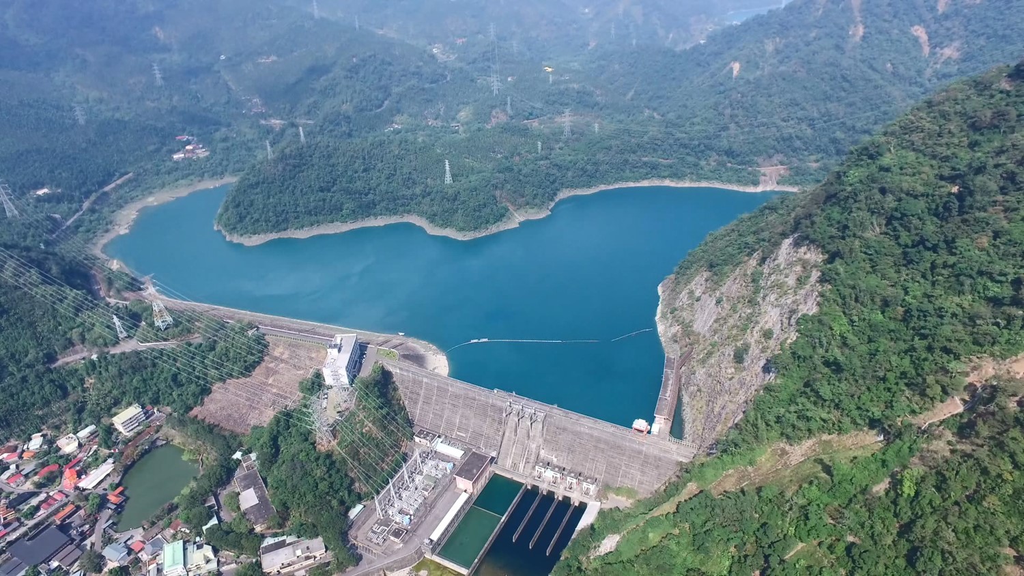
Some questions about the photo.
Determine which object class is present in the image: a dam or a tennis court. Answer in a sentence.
It is a dam that can be seen here.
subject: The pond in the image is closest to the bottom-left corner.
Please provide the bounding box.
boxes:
[116,444,200,533]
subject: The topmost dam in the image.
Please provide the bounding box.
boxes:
[382,353,689,496]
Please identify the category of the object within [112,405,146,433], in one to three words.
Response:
building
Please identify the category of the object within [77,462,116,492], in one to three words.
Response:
building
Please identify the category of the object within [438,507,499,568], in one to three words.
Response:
swimming pool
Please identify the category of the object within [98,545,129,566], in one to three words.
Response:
house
